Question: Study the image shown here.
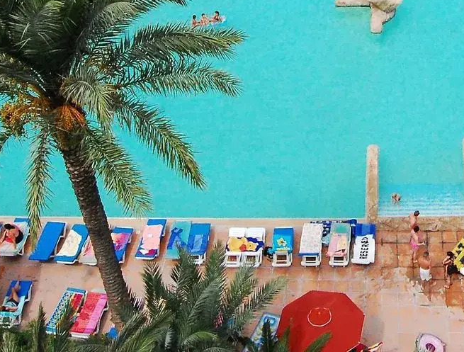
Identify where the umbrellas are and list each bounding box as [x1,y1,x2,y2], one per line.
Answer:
[276,291,365,352]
